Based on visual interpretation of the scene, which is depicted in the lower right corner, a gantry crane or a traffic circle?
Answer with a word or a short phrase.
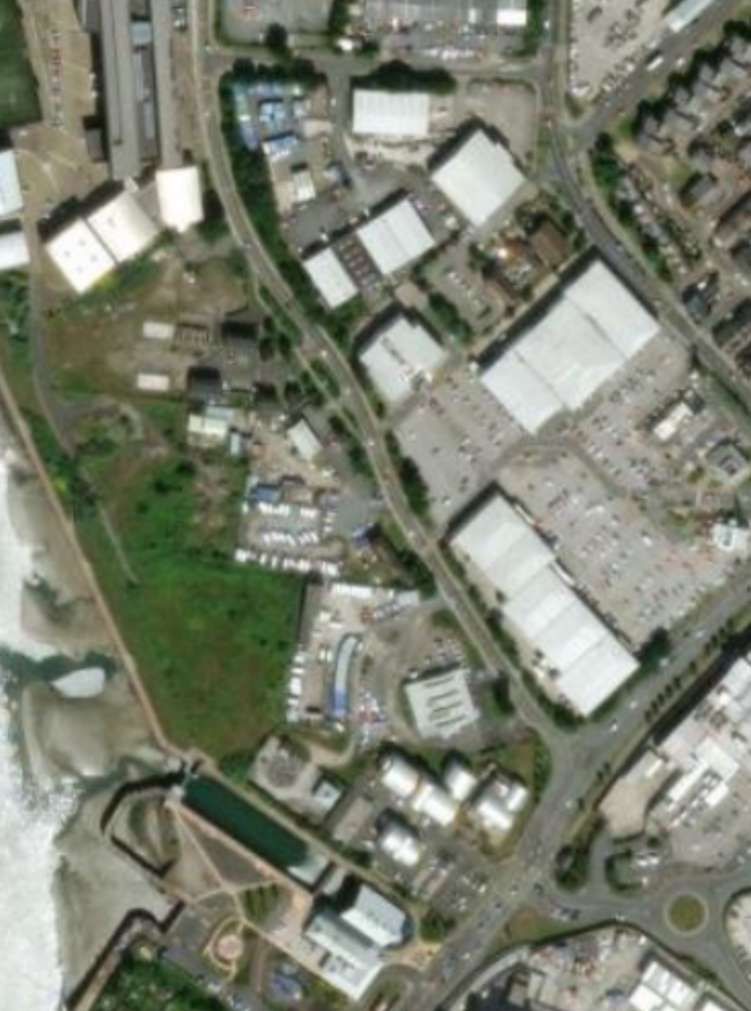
traffic circle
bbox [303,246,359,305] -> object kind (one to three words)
building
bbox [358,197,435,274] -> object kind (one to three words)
building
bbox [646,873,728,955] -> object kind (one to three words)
roundabout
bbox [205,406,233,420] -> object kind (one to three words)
shed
